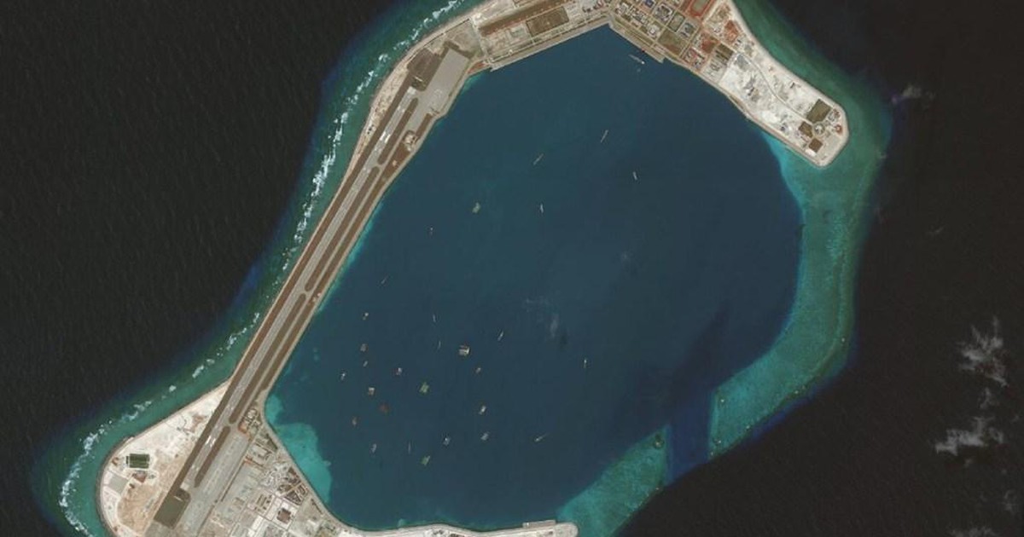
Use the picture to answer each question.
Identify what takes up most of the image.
water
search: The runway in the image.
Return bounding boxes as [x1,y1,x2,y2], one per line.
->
[179,84,418,492]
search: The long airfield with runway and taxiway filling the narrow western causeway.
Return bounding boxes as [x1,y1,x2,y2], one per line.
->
[154,43,471,537]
